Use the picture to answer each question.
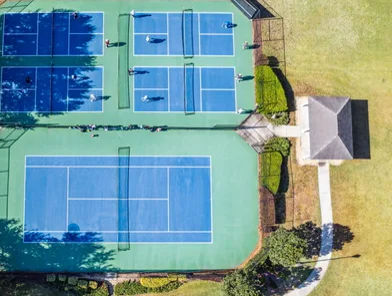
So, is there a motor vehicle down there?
No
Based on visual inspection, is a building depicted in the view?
Yes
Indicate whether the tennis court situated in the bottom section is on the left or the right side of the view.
left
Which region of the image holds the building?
right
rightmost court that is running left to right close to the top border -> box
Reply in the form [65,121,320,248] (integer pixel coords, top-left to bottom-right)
[133,12,235,56]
